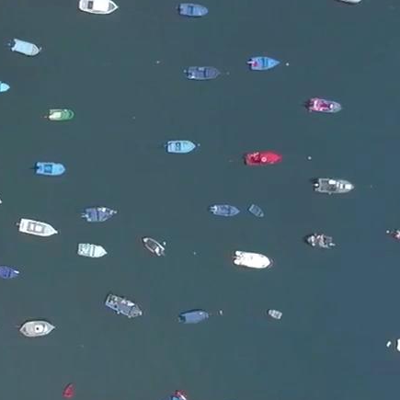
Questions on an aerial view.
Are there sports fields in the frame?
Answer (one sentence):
No, I can't see a single sports field in this photo.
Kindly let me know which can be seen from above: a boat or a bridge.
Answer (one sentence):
There is a boat in the scene.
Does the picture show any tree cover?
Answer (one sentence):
No, no tree cover is visible.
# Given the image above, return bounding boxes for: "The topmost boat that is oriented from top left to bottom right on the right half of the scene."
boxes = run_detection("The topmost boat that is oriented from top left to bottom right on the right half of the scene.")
[247,202,262,216]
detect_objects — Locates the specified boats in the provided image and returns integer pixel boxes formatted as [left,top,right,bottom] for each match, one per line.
[308,178,354,193]
[78,208,115,223]
[243,57,279,71]
[302,99,341,111]
[390,229,400,240]
[179,67,220,79]
[167,140,198,153]
[172,3,208,16]
[6,38,41,55]
[306,236,334,247]
[177,311,209,325]
[20,321,56,338]
[29,162,66,176]
[102,293,143,315]
[11,218,59,236]
[244,152,283,166]
[0,267,18,279]
[77,0,118,14]
[0,82,10,92]
[267,308,283,320]
[172,390,186,400]
[229,251,272,268]
[62,384,72,399]
[77,244,107,257]
[43,110,75,121]
[247,202,262,216]
[144,238,168,259]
